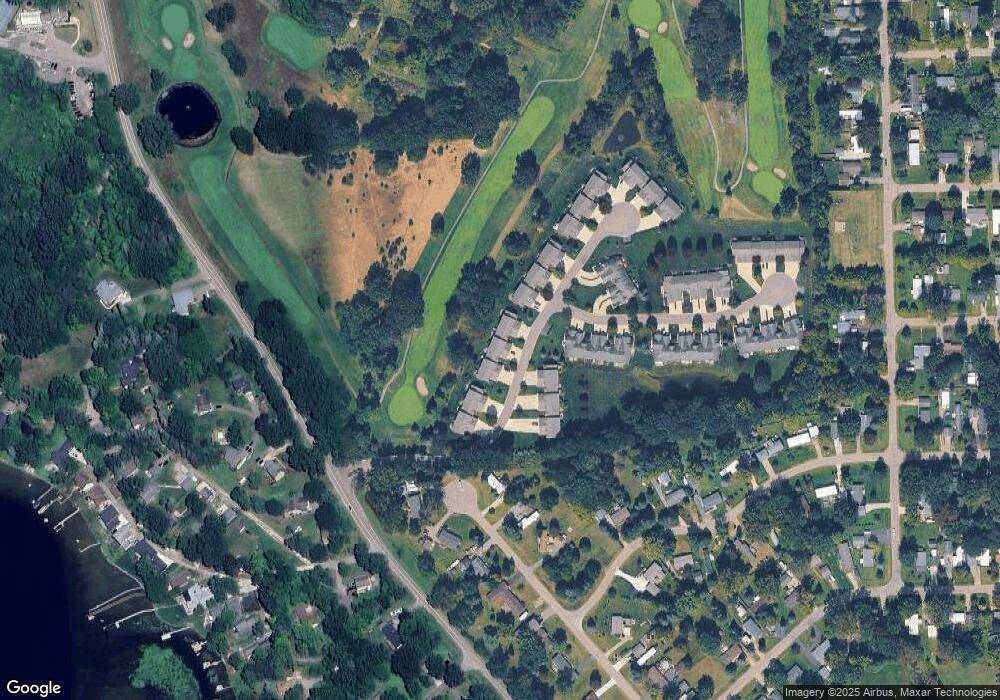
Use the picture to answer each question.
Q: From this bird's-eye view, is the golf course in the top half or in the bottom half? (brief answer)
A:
top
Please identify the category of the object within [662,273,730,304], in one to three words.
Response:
building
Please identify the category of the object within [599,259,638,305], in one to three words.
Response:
building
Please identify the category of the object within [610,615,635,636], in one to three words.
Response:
house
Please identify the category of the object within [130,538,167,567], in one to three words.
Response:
house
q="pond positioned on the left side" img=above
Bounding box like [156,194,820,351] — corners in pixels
[157,82,220,143]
